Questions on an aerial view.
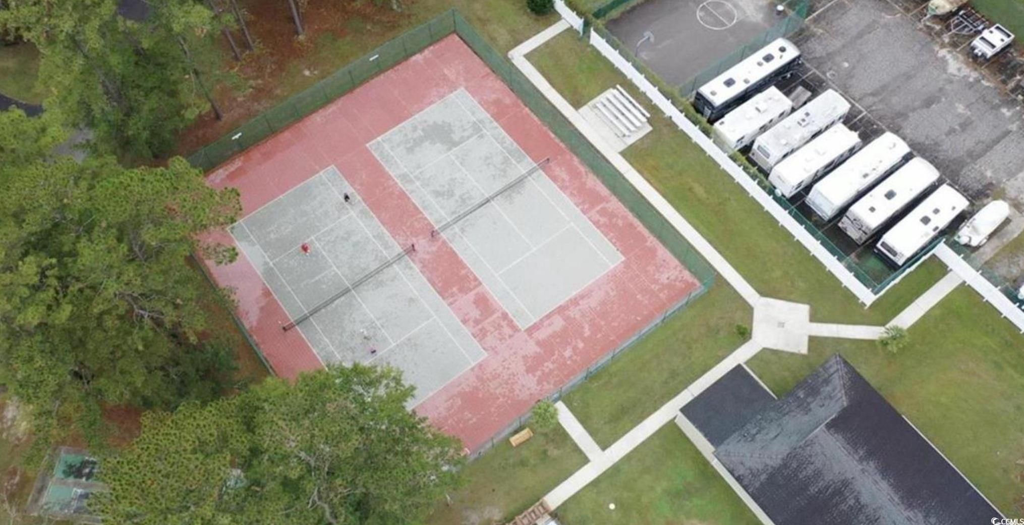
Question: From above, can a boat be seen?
Yes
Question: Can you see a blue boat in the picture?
No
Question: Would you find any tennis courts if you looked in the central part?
Yes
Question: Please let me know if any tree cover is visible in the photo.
Yes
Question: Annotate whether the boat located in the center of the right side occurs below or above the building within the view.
above it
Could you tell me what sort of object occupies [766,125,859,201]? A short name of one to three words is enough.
trailer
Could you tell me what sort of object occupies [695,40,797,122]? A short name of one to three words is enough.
camper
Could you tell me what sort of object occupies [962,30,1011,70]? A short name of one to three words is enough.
trailer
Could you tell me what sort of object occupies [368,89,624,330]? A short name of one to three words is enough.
tennis court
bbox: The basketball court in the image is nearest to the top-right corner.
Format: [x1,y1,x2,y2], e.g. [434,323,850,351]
[602,0,824,95]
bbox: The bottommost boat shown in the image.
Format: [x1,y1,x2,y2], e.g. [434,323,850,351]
[954,204,1009,252]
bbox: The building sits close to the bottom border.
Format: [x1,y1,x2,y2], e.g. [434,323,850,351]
[673,353,1017,525]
